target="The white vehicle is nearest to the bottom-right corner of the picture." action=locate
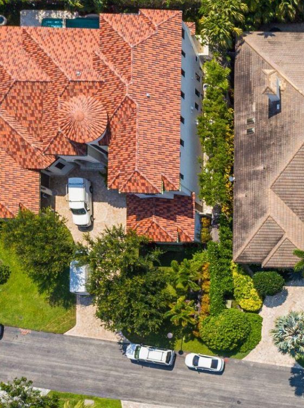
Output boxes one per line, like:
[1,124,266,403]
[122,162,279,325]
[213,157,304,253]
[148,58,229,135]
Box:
[186,353,226,372]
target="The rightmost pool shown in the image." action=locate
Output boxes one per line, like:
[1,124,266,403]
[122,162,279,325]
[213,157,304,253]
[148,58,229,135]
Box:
[65,15,100,27]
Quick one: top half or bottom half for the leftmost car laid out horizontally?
bottom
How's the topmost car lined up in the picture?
from top to bottom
